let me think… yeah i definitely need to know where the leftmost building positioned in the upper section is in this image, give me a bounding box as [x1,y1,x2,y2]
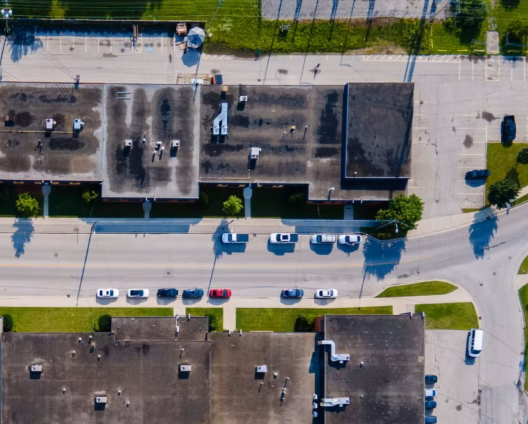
[0,82,103,186]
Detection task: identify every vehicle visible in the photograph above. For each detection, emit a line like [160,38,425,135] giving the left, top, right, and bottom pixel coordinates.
[270,233,298,243]
[156,288,178,298]
[281,288,303,298]
[465,169,488,180]
[469,328,484,357]
[425,374,437,385]
[425,389,438,397]
[425,400,437,410]
[222,232,249,243]
[310,233,337,244]
[338,234,361,244]
[425,415,438,424]
[182,288,204,298]
[96,289,119,298]
[210,289,231,298]
[502,116,515,143]
[315,289,337,298]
